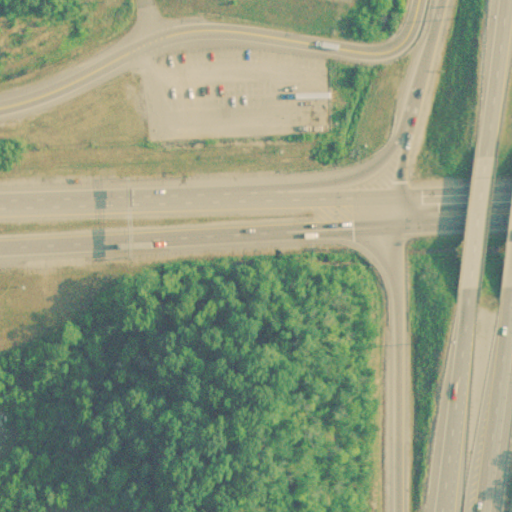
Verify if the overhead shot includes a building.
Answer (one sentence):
No, the scene contains no building.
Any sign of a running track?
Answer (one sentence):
No, the photo shows no running track.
